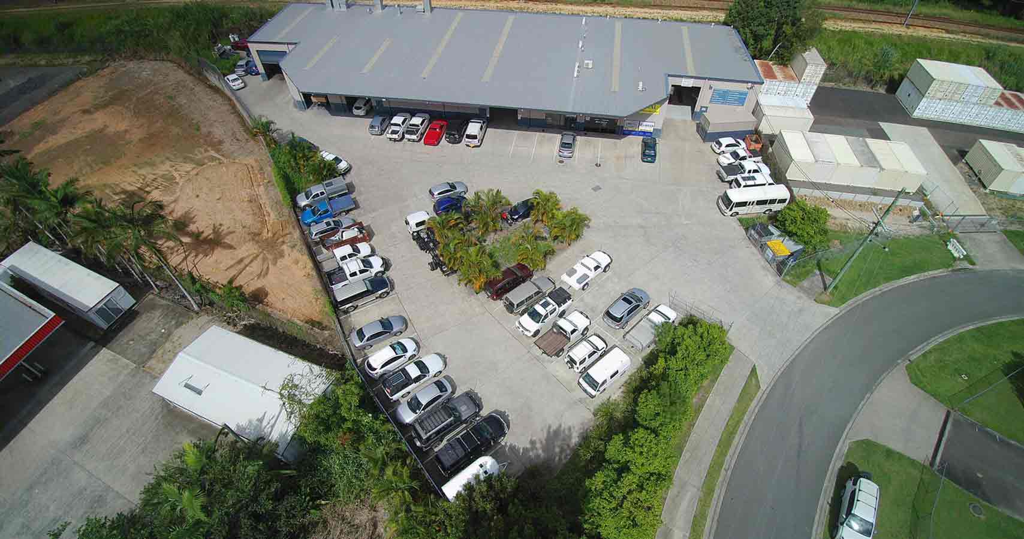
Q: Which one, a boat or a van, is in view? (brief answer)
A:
van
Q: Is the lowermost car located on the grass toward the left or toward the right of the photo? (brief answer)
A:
right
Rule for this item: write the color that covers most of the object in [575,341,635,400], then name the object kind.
white van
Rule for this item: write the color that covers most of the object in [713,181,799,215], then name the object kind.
white vehicle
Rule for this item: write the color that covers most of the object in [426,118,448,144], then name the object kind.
red car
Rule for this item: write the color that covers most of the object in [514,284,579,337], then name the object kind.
white truck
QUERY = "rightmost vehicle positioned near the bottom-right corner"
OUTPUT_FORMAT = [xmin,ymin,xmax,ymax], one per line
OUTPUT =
[838,476,893,539]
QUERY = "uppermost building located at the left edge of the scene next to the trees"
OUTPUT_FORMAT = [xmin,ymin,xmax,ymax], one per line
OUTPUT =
[0,237,137,332]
